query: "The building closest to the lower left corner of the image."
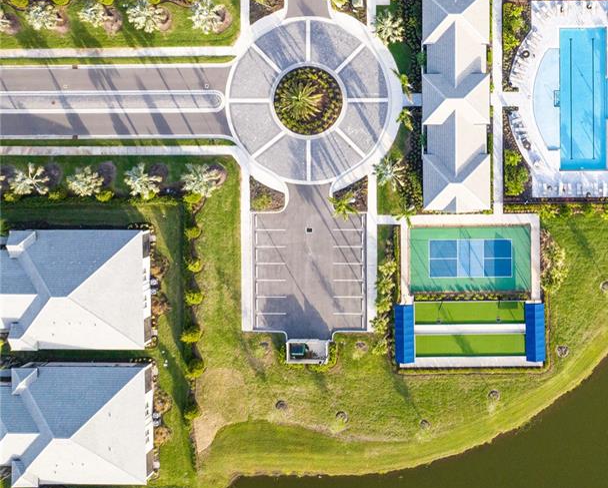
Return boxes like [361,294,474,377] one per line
[0,361,153,486]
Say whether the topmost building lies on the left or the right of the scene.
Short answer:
right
